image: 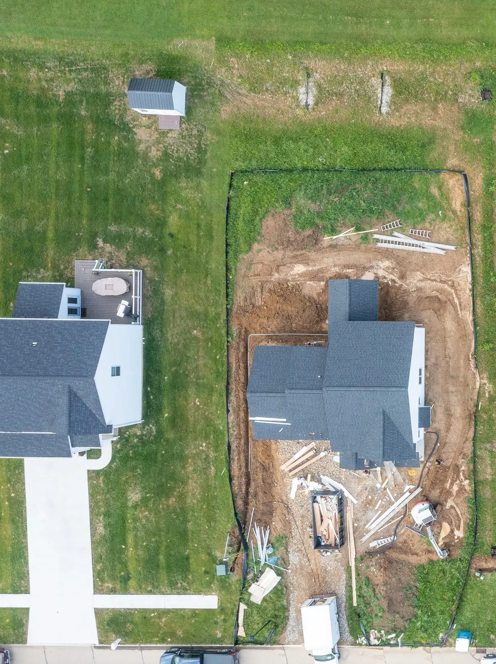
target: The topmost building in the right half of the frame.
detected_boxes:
[247,279,432,471]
